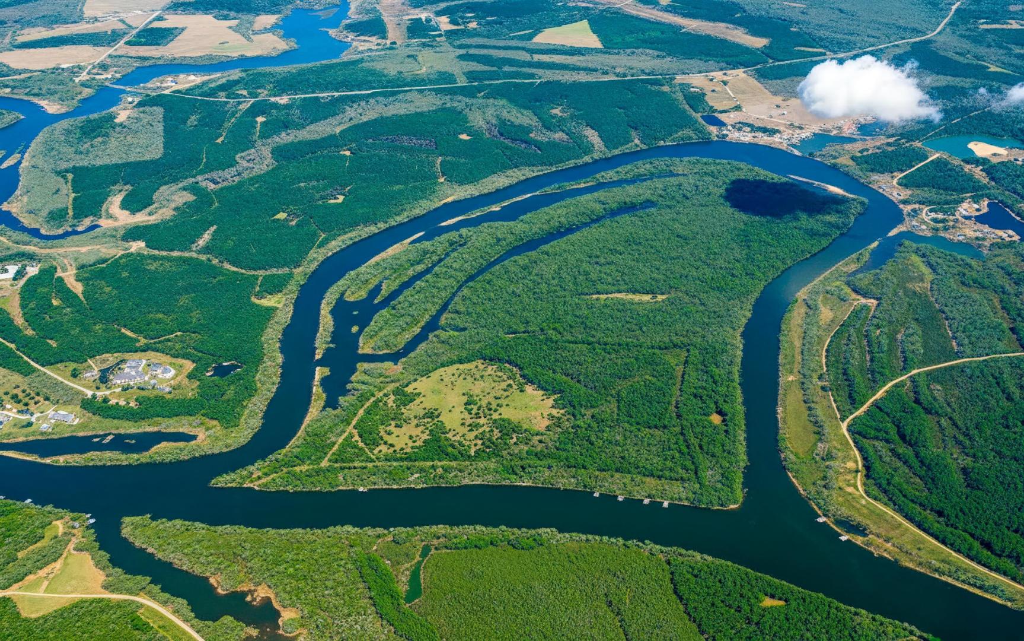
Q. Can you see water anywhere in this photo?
Yes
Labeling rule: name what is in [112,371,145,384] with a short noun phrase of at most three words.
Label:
building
